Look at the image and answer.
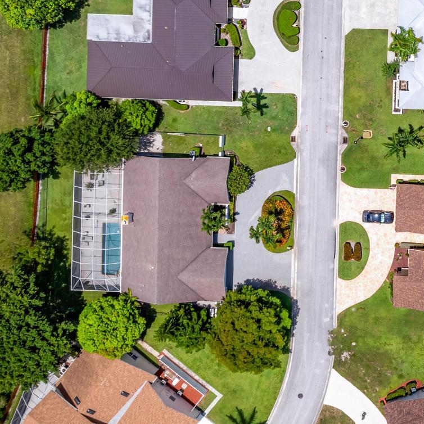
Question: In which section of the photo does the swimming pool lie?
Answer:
left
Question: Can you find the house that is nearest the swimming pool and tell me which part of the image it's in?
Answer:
center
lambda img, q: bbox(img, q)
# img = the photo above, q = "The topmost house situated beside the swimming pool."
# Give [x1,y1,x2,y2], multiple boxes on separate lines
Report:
[115,152,232,305]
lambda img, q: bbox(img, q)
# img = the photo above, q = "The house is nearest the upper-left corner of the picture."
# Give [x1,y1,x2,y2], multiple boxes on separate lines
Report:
[85,0,236,101]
